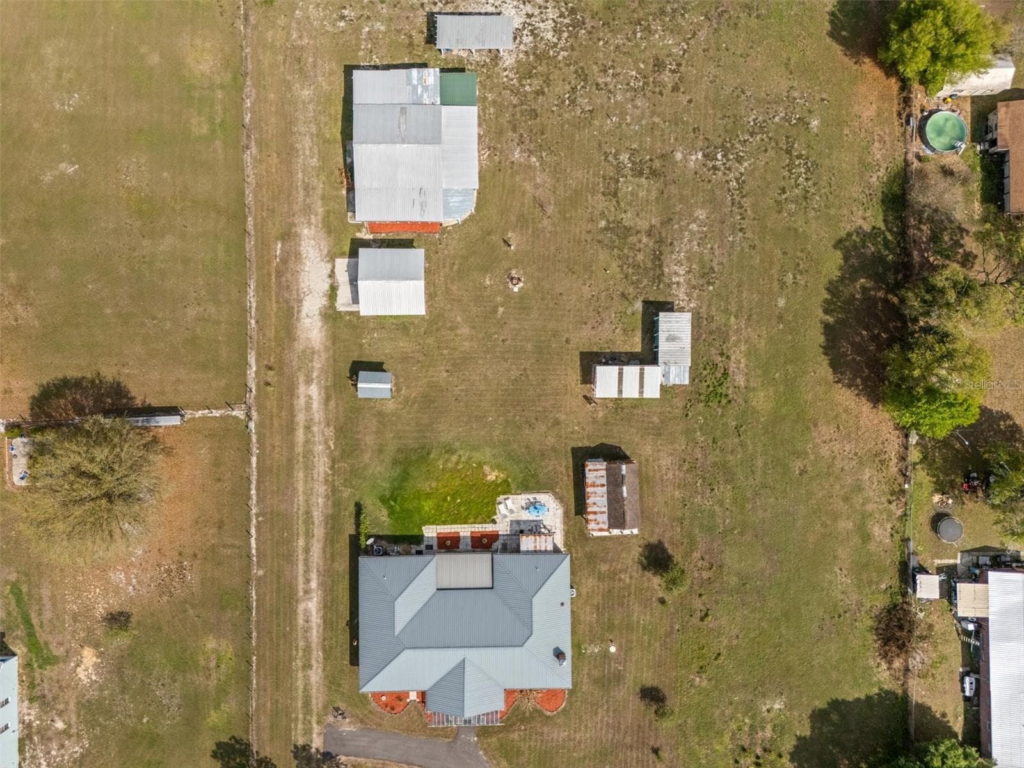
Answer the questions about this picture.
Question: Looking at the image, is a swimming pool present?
Yes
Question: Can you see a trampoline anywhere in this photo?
Yes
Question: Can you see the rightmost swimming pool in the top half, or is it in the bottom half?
top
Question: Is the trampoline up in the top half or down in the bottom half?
bottom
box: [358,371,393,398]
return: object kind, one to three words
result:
shed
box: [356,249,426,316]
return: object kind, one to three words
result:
building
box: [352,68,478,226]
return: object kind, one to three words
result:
barn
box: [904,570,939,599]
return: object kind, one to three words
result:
shed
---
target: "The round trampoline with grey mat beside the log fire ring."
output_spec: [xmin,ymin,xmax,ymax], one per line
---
[930,516,962,543]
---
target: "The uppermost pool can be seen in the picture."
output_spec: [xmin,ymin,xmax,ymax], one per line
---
[918,111,968,157]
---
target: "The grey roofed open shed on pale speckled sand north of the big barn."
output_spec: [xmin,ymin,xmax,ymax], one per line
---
[434,15,513,62]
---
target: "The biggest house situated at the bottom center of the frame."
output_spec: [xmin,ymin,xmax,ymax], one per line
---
[357,549,572,722]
